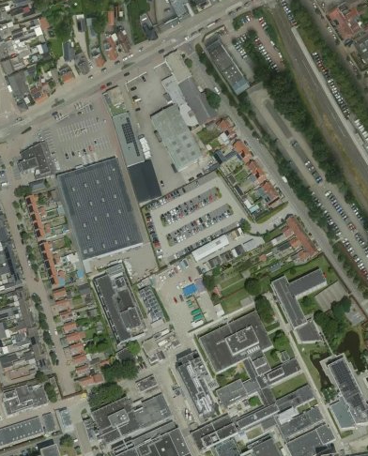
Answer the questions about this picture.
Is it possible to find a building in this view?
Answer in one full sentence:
Yes, there is a building in the image.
